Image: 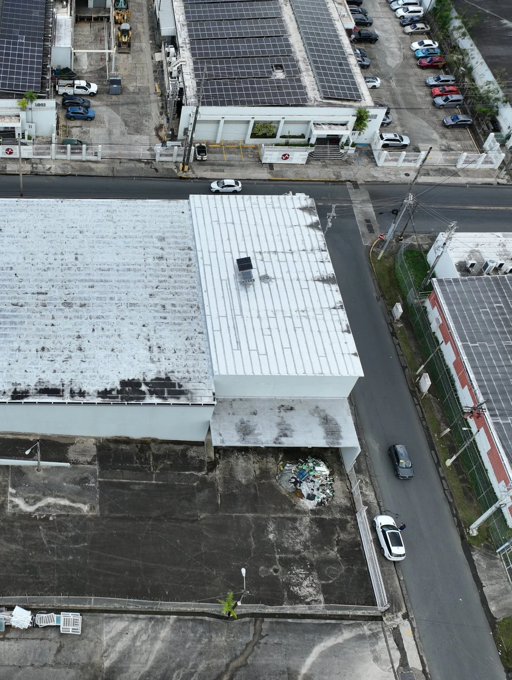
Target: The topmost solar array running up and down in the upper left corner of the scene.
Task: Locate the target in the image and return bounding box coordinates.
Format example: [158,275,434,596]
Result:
[0,0,45,92]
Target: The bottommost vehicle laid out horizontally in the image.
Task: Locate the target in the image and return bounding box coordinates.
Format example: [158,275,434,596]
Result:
[208,178,243,193]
